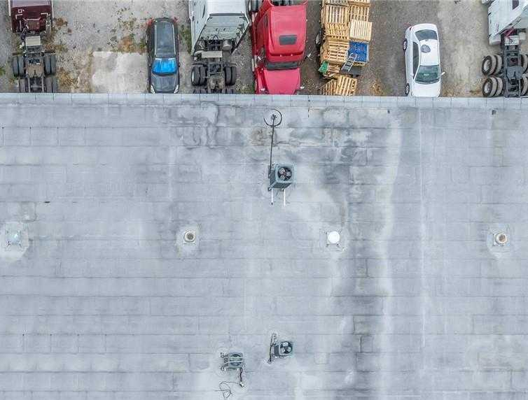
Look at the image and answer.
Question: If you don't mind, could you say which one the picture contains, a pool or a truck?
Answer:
truck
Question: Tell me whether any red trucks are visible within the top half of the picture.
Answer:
Yes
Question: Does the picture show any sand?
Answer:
No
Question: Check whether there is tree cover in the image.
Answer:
No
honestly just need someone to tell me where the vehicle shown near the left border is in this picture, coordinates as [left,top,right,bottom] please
[13,0,57,94]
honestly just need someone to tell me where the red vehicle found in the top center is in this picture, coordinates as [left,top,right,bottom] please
[253,0,314,95]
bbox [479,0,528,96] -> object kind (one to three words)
truck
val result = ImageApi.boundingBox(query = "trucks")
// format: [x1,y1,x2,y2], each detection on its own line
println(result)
[13,0,57,94]
[191,0,249,95]
[479,0,528,96]
[253,0,314,95]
